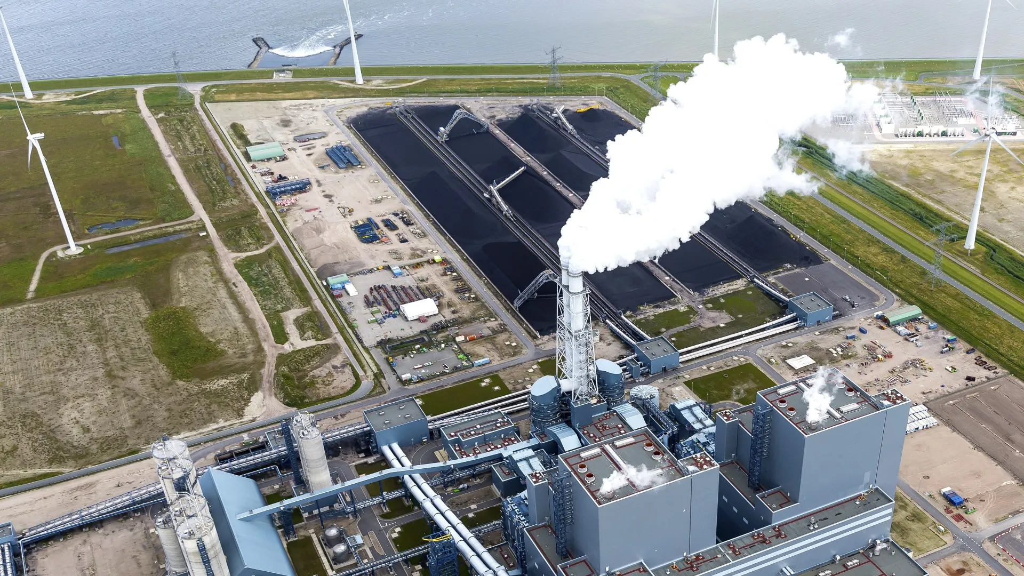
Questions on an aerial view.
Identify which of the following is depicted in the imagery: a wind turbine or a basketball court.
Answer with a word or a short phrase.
wind turbine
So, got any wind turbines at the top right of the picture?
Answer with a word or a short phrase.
Yes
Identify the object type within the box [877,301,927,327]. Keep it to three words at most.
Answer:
shed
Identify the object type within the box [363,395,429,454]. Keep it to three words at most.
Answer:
house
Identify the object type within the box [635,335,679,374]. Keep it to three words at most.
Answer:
house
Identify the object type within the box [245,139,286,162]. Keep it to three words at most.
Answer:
shed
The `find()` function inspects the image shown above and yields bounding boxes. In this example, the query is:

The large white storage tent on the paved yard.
[401,298,437,321]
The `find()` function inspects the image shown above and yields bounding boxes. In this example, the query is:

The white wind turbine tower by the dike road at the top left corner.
[0,4,36,100]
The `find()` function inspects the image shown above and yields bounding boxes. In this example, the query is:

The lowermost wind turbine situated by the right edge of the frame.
[947,79,1024,252]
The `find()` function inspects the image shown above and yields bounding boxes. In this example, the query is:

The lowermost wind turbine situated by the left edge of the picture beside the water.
[15,81,82,253]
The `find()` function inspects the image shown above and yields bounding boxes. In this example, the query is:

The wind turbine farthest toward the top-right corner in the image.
[967,0,991,82]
